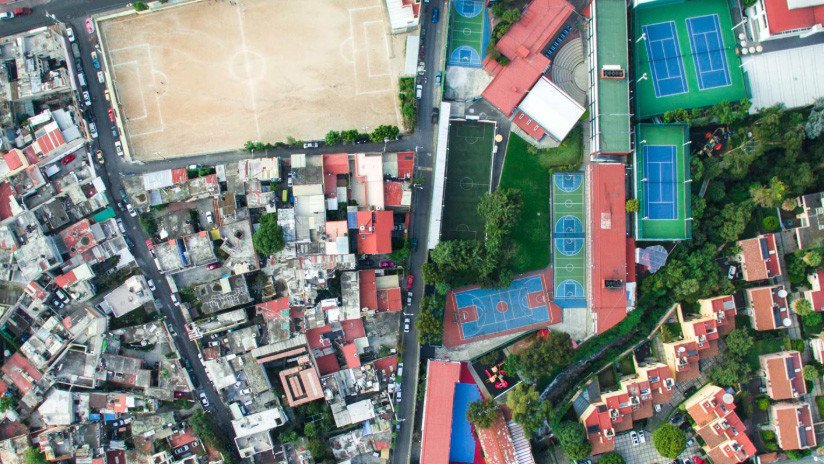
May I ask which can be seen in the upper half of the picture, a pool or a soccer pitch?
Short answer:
soccer pitch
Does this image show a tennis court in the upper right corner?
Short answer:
Yes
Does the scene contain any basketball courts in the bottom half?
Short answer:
Yes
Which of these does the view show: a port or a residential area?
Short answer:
residential area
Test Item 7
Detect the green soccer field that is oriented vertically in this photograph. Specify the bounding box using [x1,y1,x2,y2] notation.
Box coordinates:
[441,121,496,245]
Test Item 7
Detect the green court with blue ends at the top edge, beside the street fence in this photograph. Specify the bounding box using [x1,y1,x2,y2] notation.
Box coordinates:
[447,0,492,67]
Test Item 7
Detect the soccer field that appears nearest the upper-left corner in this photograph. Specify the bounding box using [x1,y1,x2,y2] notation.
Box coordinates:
[101,0,407,162]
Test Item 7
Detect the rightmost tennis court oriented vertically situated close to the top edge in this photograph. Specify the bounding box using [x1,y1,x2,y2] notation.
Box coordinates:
[682,0,740,110]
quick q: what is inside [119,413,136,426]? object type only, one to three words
vehicle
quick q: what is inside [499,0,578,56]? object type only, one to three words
building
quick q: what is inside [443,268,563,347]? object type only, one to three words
basketball court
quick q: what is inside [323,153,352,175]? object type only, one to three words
house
